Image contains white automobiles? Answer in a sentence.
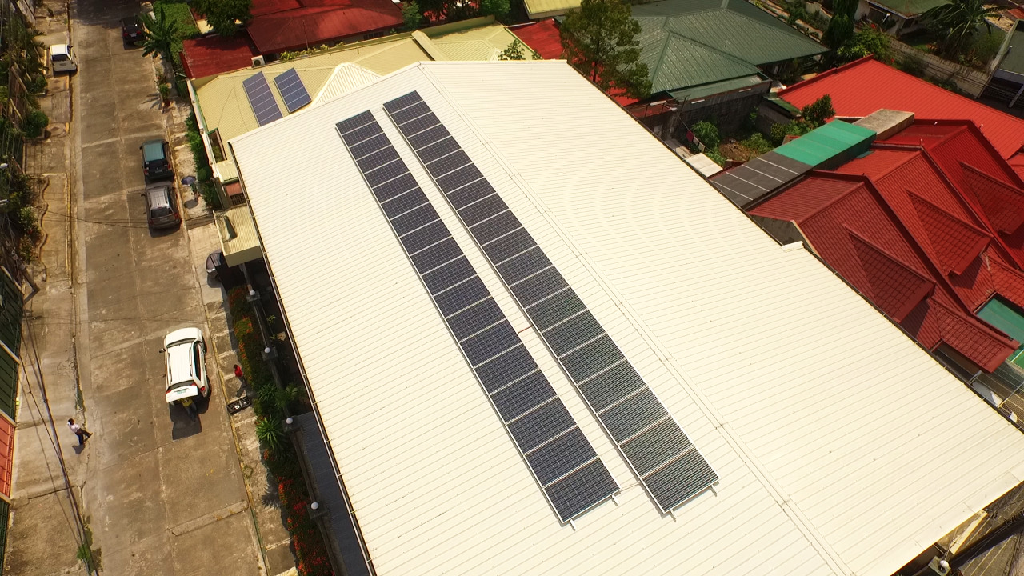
Yes, the frame does contain a white automobile.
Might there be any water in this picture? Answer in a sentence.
No, there is no water in the image.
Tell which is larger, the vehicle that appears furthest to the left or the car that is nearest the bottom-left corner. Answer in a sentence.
It is the car that is larger, not the vehicle.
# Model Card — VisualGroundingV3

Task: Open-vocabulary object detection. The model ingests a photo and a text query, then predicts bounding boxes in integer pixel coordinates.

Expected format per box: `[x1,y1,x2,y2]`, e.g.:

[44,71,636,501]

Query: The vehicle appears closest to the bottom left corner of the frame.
[162,331,216,417]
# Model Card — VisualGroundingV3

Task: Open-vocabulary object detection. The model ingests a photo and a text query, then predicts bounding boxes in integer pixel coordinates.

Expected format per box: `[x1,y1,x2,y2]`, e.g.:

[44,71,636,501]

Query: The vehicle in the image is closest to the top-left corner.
[48,47,81,78]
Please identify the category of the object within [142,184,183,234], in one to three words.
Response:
car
